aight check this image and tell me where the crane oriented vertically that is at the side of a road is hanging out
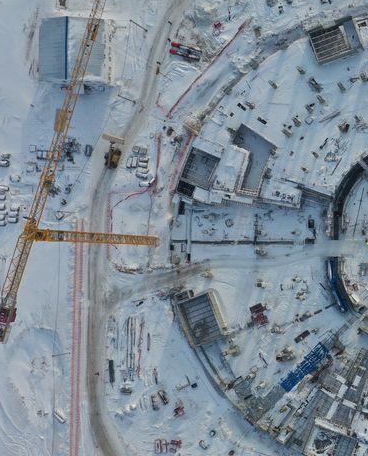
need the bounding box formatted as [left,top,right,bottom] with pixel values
[0,0,167,350]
